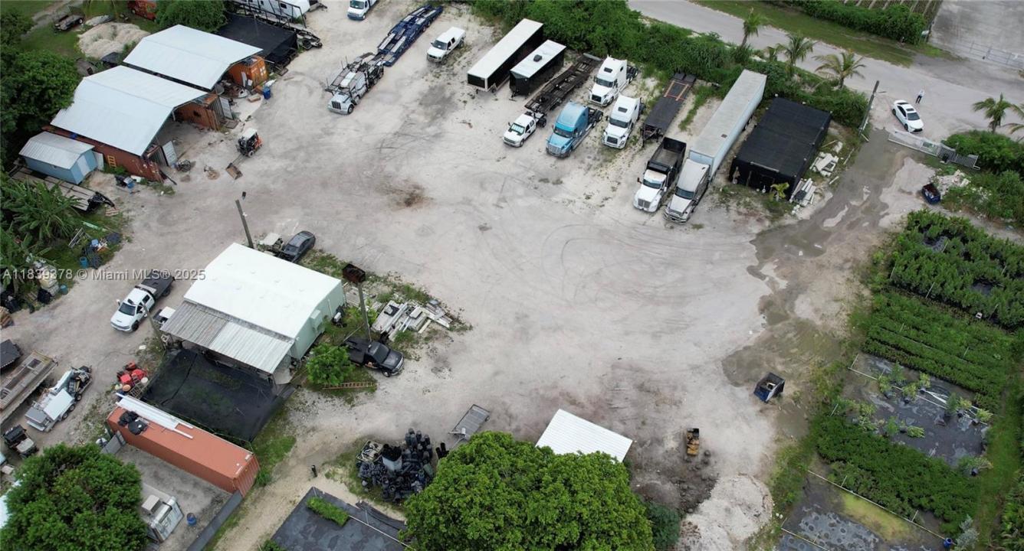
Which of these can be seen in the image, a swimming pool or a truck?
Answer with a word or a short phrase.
truck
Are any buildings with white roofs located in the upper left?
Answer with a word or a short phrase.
Yes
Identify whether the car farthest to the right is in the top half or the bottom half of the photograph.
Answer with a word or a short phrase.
top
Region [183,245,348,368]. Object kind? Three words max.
building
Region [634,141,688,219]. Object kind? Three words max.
truck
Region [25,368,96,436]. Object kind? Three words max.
trailer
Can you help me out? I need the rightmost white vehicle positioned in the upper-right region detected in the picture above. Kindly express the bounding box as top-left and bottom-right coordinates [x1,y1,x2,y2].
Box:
[891,99,924,130]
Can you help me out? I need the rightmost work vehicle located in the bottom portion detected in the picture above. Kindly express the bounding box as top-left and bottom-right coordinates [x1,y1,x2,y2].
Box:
[685,427,701,454]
